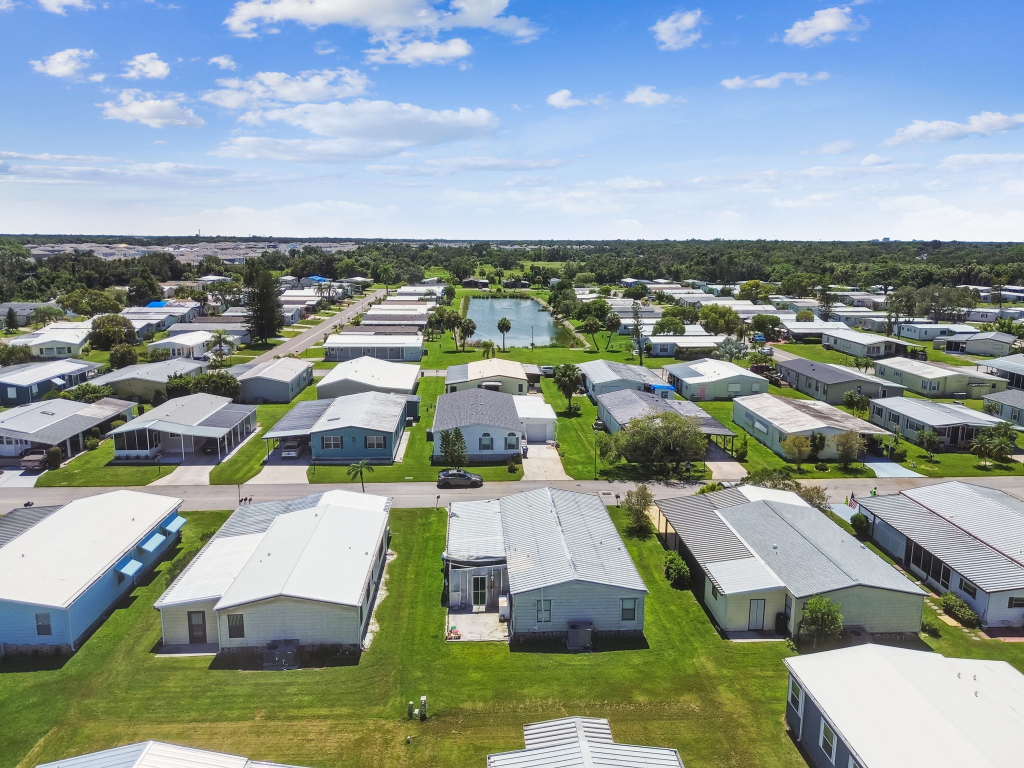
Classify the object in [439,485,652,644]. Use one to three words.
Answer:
house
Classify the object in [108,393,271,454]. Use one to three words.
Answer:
house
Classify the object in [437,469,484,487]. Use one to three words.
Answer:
car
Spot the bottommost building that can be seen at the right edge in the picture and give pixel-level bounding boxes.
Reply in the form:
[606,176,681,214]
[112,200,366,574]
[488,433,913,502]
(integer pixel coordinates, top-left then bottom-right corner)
[781,643,1024,768]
